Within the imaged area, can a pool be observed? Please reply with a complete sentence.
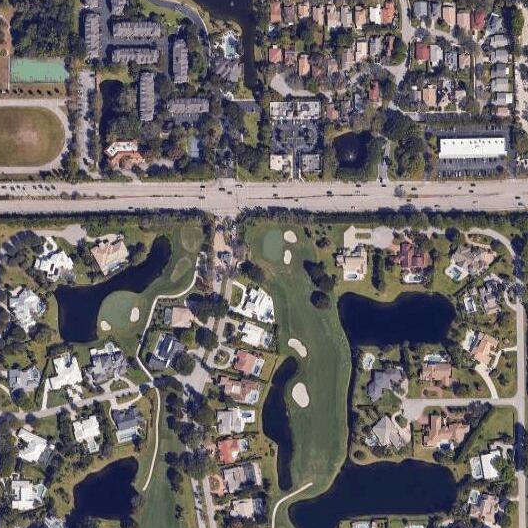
Yes, you can see a pool in this photo.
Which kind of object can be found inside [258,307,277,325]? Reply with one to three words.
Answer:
swimming pool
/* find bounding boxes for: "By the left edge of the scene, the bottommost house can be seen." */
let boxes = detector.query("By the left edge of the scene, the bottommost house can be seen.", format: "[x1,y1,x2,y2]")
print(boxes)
[11,481,32,509]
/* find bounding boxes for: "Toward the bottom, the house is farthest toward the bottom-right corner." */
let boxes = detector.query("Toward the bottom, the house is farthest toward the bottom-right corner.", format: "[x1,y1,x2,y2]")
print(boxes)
[469,498,500,518]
